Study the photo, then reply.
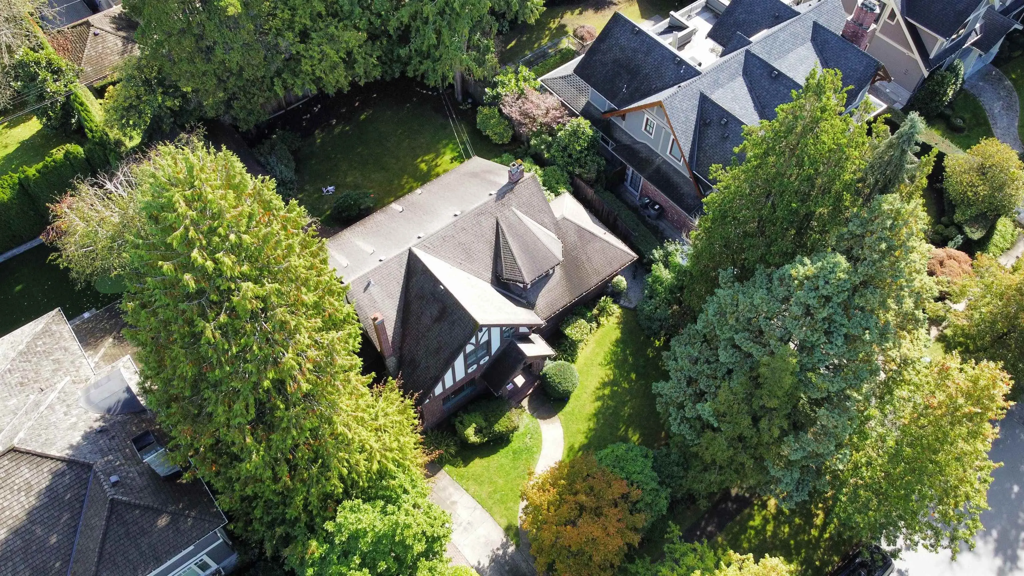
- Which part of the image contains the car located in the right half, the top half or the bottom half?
bottom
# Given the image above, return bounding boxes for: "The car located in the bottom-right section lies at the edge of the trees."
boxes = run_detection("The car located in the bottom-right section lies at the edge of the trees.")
[830,539,899,576]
